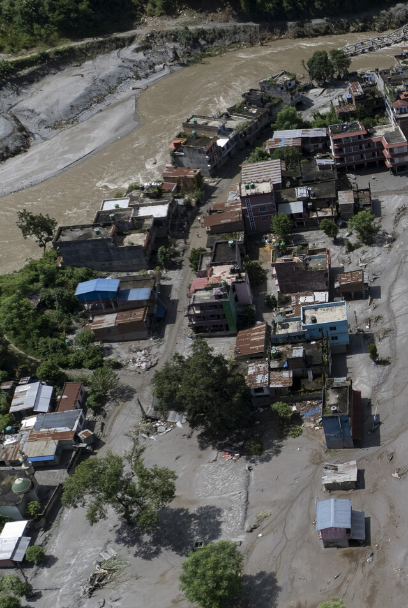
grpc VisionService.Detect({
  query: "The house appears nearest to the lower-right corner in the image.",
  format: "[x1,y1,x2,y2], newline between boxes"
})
[316,495,365,549]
